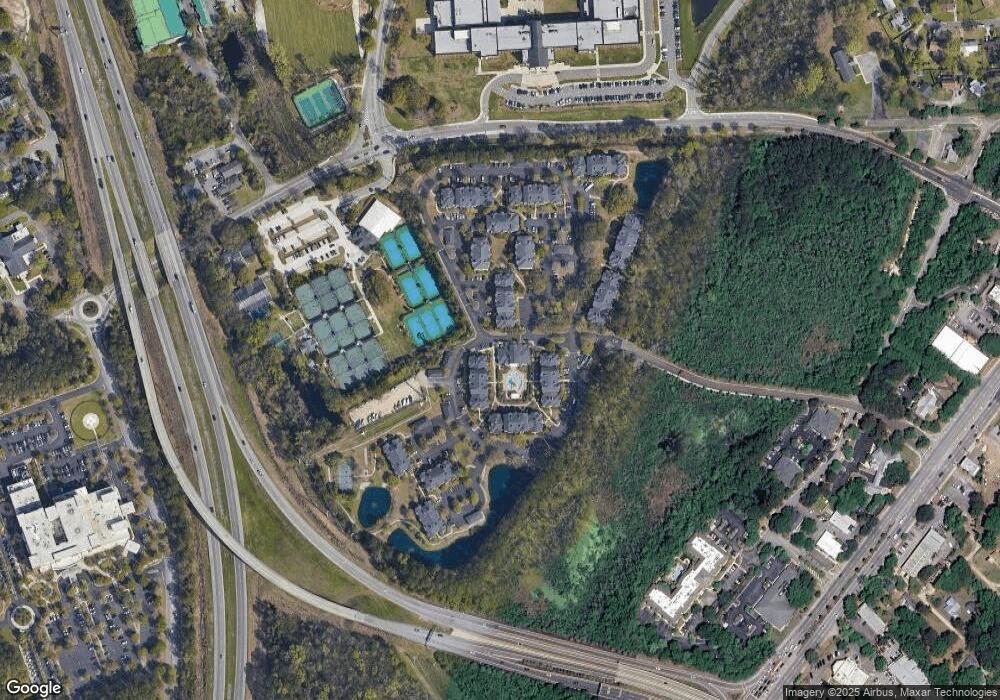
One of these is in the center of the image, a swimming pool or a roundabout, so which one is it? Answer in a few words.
swimming pool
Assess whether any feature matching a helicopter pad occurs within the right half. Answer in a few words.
No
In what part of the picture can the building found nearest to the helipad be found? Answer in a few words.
bottom left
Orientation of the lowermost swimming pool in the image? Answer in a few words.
on a diagonal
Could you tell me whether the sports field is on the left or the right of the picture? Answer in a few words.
left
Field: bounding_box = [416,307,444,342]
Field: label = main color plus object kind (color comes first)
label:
blue tennis court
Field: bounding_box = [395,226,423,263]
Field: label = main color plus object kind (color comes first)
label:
blue tennis court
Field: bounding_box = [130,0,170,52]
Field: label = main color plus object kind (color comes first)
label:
green sports court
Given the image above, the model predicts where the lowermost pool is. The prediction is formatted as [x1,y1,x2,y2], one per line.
[670,559,689,582]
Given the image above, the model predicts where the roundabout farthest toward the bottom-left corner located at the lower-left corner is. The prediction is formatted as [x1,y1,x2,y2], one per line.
[5,599,40,636]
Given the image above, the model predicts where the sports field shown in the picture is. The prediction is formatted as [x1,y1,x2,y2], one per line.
[256,0,363,69]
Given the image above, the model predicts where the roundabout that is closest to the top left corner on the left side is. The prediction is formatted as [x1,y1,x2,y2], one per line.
[73,292,107,325]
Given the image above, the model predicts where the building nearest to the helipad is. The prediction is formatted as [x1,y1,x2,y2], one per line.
[5,478,140,580]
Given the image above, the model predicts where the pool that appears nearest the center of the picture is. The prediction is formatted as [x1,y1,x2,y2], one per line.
[504,368,527,397]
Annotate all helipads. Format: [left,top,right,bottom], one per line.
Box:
[71,401,110,440]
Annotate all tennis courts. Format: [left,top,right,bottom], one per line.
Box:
[343,345,373,383]
[326,311,357,349]
[311,319,341,357]
[327,352,357,391]
[359,337,390,375]
[306,86,335,123]
[416,307,444,342]
[402,313,431,349]
[395,226,423,263]
[411,264,441,300]
[294,282,324,320]
[431,299,458,335]
[294,92,322,129]
[325,267,356,306]
[379,234,409,271]
[338,464,353,490]
[310,274,341,313]
[317,83,347,117]
[343,303,374,341]
[395,271,424,309]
